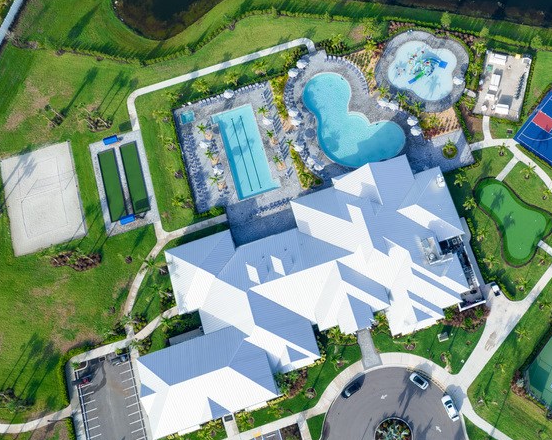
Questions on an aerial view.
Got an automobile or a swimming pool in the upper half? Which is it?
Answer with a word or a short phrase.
swimming pool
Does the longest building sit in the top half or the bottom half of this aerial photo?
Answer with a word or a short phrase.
bottom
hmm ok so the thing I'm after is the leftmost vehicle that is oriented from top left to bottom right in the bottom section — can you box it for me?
[408,372,430,390]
